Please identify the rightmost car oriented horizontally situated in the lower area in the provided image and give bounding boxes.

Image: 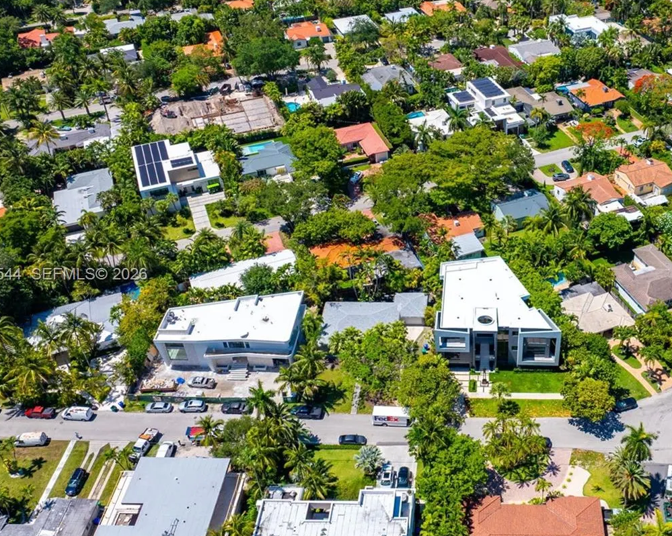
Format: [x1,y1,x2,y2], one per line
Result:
[612,397,640,412]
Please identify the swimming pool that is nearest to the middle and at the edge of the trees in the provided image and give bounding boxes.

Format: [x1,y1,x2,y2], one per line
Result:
[242,139,278,153]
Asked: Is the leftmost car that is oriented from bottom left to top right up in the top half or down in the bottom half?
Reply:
bottom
